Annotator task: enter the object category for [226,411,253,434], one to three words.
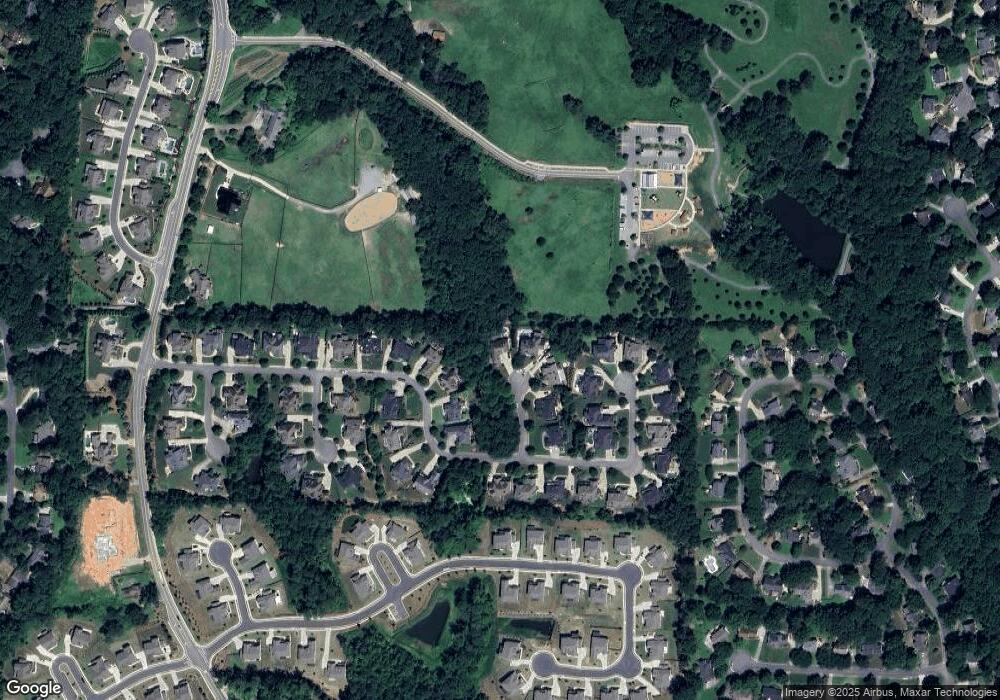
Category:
house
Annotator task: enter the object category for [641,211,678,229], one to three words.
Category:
playground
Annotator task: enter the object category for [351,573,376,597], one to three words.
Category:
house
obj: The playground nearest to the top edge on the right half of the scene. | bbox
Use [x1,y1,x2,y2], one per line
[657,172,686,186]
